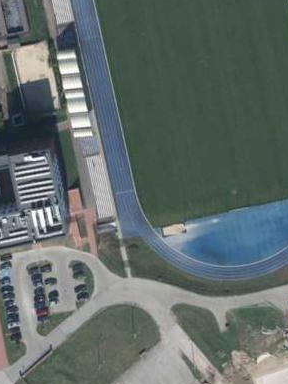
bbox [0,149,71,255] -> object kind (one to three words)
building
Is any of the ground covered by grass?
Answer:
Yes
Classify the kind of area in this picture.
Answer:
sports ground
